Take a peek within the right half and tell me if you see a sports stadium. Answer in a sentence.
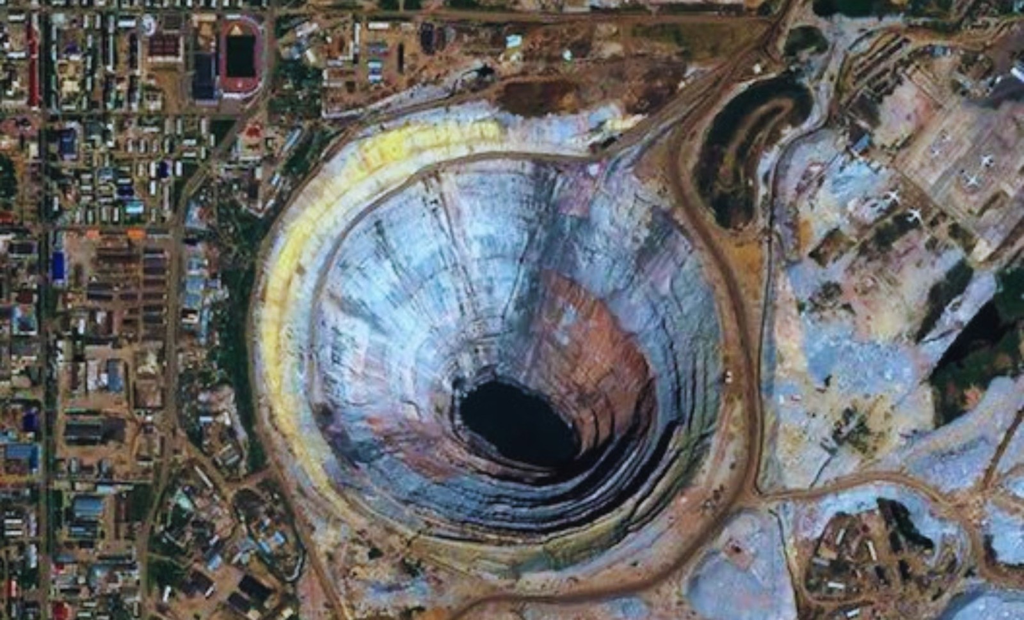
No, there is no sports stadium within the right half.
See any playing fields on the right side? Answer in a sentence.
No, there is no playing field on the right side.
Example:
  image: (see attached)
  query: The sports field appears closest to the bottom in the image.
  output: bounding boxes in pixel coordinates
[227,35,255,77]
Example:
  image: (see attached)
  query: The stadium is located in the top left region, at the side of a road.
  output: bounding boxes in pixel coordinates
[219,12,264,101]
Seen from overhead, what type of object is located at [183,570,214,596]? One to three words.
building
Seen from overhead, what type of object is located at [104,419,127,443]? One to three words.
building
